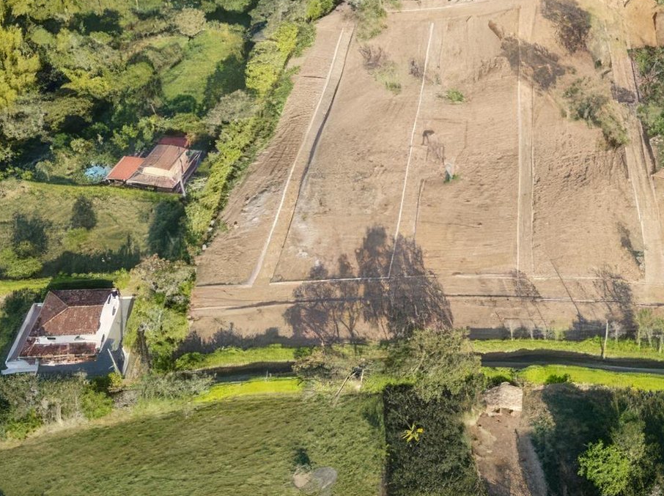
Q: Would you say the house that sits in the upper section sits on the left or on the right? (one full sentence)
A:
The house that sits in the upper section is on the left side of the image.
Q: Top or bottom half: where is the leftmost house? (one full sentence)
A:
The leftmost house sits in the bottom half of the picture.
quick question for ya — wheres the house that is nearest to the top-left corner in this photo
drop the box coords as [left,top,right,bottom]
[106,136,201,198]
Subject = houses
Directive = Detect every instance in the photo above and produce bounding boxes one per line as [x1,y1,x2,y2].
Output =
[106,136,201,198]
[3,288,125,380]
